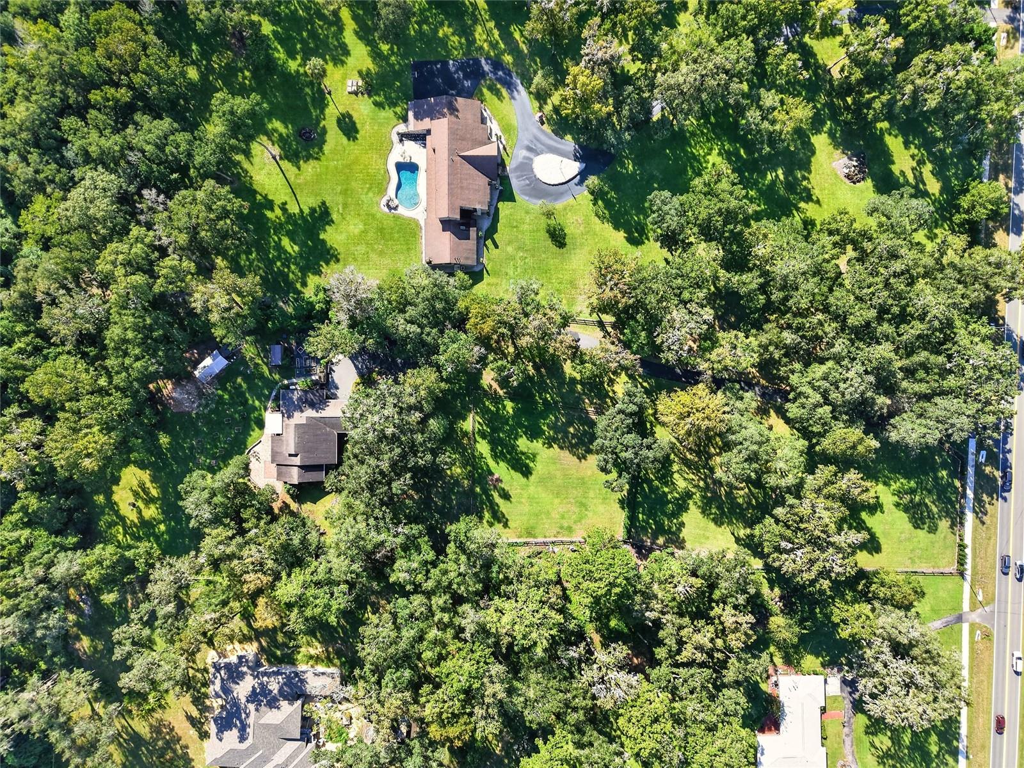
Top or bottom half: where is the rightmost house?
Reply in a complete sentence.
It is in the bottom half that the rightmost house appears.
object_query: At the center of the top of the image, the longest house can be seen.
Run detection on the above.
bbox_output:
[408,95,497,265]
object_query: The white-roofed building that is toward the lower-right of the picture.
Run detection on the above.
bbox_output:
[754,671,827,768]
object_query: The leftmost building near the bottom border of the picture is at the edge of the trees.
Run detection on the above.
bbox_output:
[205,653,342,768]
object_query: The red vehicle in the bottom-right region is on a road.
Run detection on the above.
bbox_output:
[994,714,1006,733]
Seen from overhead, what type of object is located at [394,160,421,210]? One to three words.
swimming pool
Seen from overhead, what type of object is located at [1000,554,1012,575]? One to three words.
vehicle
